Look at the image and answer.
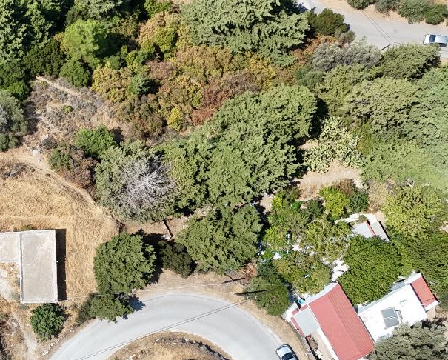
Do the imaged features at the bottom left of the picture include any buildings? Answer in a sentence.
Yes, looking at the bottom left of the picture, one can make out a building.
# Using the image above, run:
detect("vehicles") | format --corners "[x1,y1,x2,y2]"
[419,32,448,47]
[276,344,295,360]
